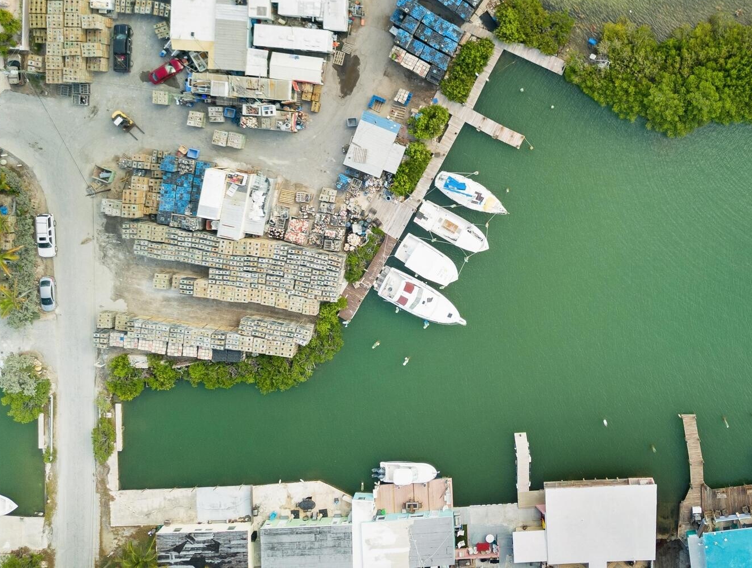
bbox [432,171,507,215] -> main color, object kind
white boat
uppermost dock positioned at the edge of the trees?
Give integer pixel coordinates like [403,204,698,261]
[461,23,565,75]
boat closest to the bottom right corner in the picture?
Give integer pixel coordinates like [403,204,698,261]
[375,458,439,484]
